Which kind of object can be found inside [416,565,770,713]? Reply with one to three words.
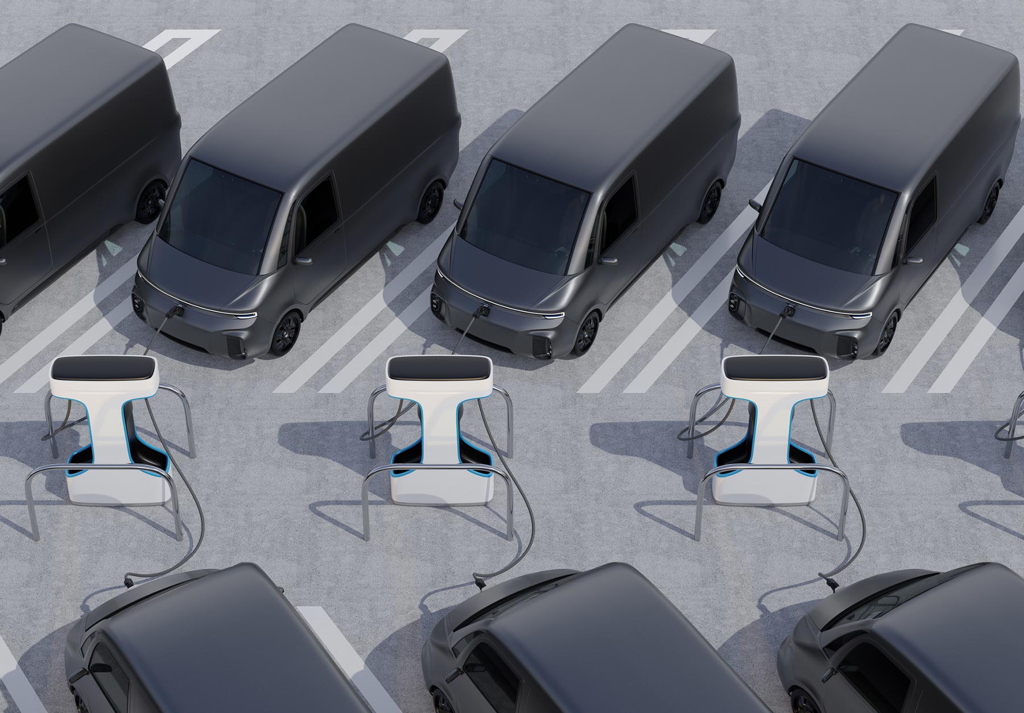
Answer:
van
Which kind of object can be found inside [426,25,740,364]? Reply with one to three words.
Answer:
van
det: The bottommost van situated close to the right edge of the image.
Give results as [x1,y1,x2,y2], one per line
[772,565,1024,713]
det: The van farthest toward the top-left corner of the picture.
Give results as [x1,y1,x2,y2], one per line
[0,25,180,323]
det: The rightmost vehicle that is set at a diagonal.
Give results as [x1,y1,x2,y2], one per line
[725,25,1020,364]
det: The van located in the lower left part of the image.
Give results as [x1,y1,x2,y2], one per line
[60,565,370,713]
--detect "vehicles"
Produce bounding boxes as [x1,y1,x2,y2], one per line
[725,25,1020,364]
[127,25,460,364]
[0,25,180,323]
[60,565,370,713]
[416,565,770,713]
[772,565,1024,713]
[426,25,740,364]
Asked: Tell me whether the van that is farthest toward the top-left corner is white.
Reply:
No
